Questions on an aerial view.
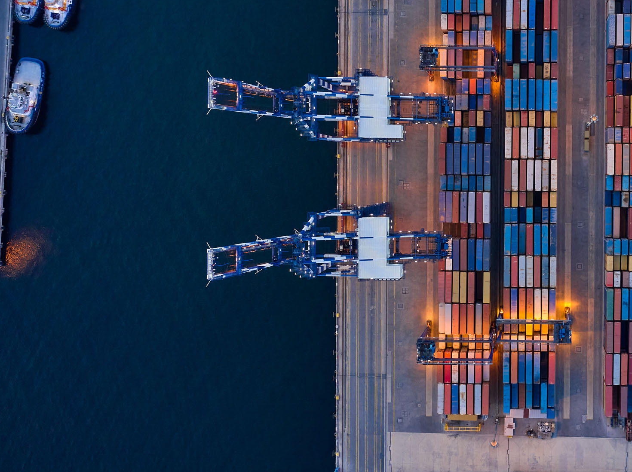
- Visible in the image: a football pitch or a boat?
boat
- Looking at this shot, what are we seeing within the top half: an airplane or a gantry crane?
gantry crane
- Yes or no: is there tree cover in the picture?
No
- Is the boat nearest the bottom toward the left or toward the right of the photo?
left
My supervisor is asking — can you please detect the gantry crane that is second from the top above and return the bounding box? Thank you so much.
[206,63,456,151]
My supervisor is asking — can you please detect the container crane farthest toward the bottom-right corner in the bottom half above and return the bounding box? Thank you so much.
[496,303,573,348]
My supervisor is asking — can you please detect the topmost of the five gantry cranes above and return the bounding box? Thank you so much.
[420,42,499,82]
